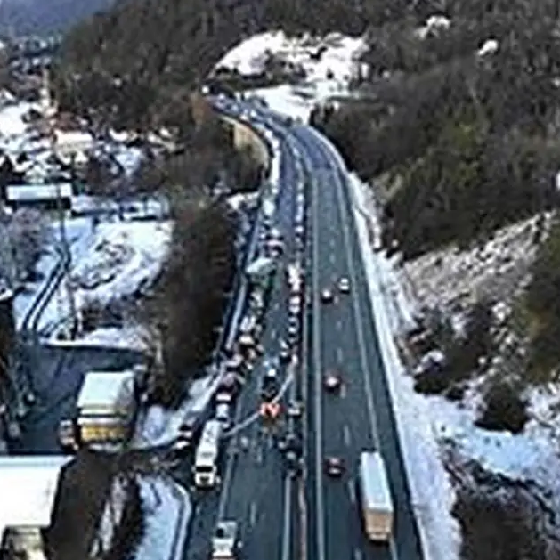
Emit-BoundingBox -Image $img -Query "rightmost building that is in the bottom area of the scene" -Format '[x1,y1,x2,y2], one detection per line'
[72,367,140,442]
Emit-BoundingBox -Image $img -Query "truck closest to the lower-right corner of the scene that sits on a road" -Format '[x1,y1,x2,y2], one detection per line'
[358,451,394,539]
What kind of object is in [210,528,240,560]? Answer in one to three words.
truck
